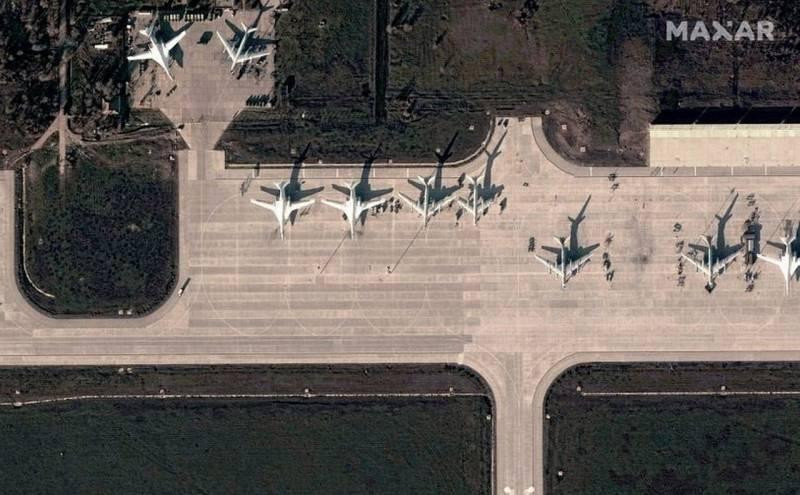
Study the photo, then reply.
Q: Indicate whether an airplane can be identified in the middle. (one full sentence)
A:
Yes, in the middle there is an airplane.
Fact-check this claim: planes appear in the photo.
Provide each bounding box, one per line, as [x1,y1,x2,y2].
[320,179,384,240]
[458,172,491,226]
[124,23,182,80]
[250,180,313,240]
[216,21,270,73]
[681,235,739,290]
[534,234,591,289]
[398,173,455,227]
[756,233,800,295]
